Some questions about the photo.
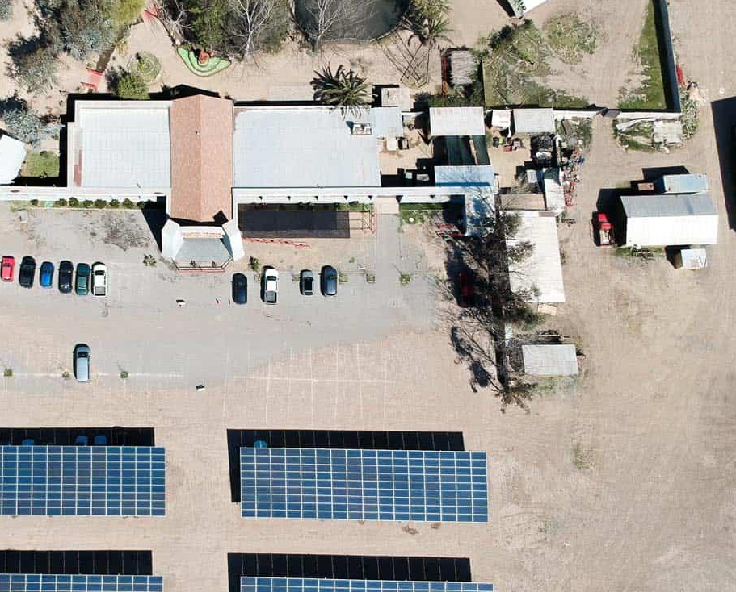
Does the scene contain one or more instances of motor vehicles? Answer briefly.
Yes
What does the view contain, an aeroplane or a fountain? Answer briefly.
fountain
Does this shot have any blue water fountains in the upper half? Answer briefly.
No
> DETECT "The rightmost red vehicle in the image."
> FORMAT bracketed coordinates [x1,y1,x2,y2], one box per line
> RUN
[595,213,614,247]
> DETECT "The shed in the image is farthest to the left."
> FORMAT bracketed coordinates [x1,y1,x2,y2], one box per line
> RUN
[0,135,30,186]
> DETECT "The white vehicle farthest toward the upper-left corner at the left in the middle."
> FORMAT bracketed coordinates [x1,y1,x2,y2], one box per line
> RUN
[92,262,108,297]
